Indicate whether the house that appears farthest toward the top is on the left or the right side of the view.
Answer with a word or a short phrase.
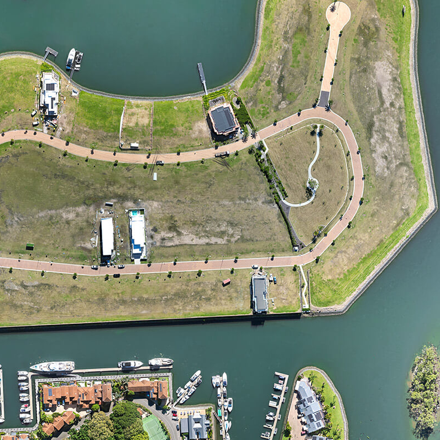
left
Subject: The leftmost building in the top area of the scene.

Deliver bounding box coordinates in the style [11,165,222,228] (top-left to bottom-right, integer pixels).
[40,71,61,113]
